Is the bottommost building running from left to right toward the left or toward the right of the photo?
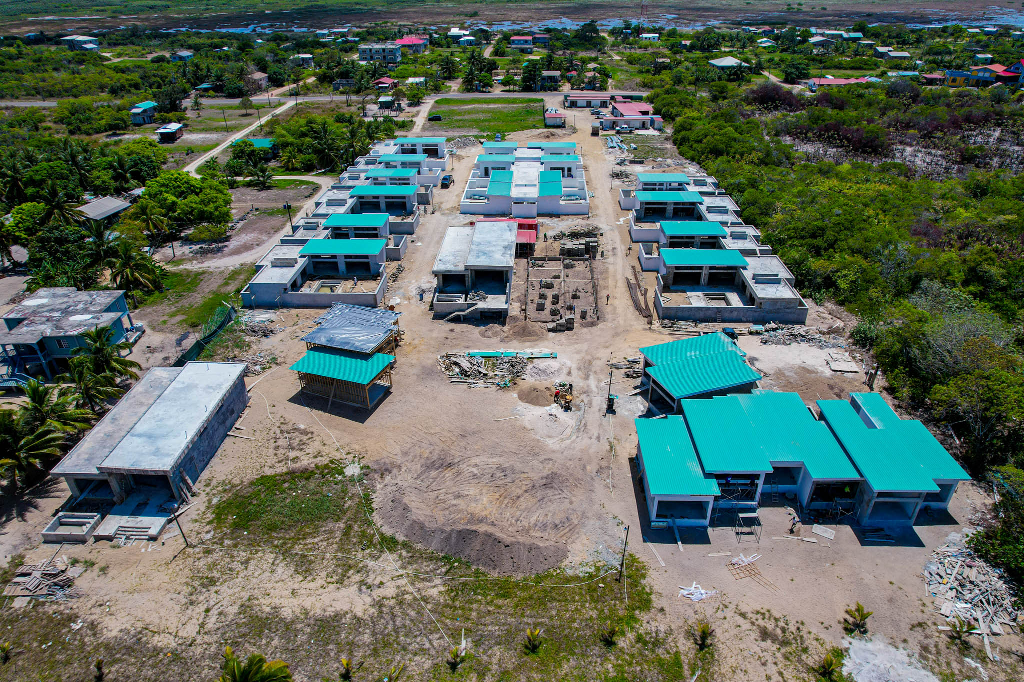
right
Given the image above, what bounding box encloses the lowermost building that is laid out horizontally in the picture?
[634,389,972,525]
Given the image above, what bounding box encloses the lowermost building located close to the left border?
[50,362,255,544]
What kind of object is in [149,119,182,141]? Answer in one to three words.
building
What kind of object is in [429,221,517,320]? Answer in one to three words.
house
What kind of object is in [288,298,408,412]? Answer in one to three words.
shed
